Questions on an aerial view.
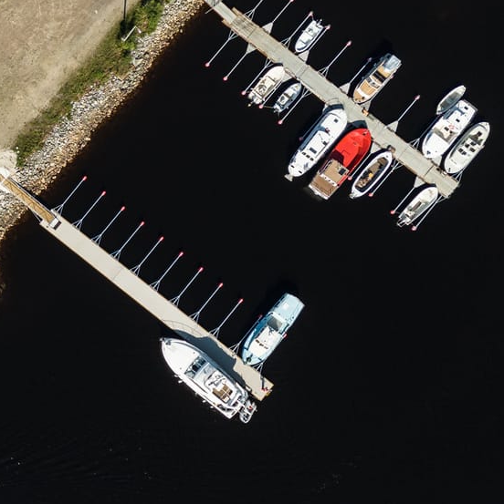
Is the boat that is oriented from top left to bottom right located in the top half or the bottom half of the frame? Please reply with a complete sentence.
The bottom half of the photo is where the boat that is oriented from top left to bottom right is.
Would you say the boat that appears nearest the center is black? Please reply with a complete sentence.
No, the boat that appears nearest the center is actually white.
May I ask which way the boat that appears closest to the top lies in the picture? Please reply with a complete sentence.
From this overhead view, the boat that appears closest to the top appears to run diagonally.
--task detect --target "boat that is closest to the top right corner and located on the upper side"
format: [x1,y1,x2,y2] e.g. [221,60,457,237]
[430,83,466,122]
